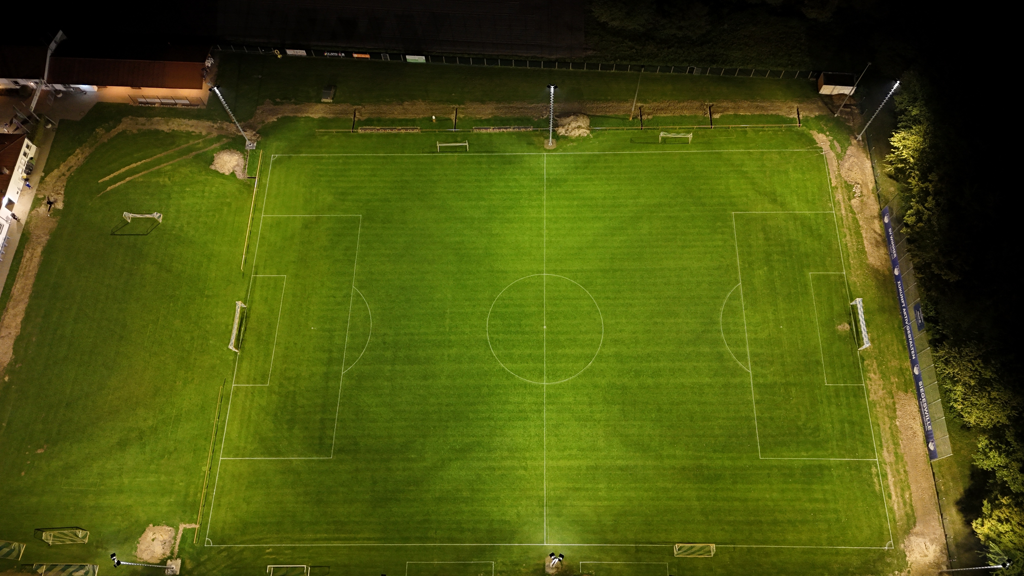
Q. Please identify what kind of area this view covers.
sports ground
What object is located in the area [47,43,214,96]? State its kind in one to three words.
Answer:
building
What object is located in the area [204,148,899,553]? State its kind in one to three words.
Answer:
soccer field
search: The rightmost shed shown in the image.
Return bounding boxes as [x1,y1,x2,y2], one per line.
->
[818,70,856,95]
